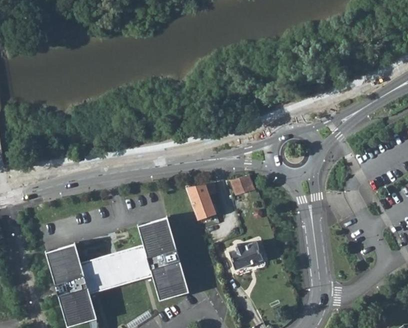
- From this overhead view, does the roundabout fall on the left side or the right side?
right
